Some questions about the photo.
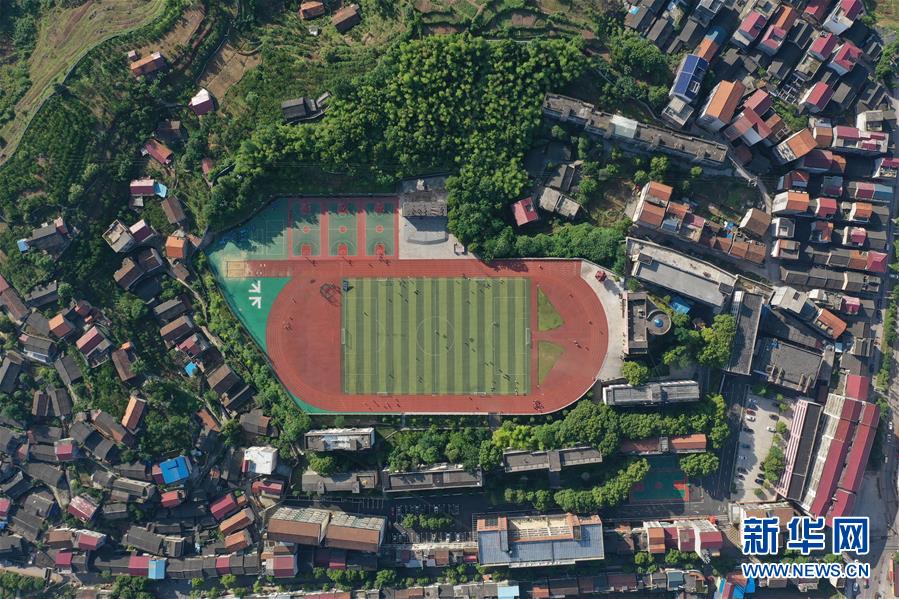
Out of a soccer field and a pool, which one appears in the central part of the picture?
soccer field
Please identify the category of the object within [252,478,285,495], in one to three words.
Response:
house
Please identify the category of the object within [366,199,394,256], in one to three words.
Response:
basketball court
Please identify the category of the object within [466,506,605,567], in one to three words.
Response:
building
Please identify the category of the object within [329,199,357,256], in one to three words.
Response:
basketball court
